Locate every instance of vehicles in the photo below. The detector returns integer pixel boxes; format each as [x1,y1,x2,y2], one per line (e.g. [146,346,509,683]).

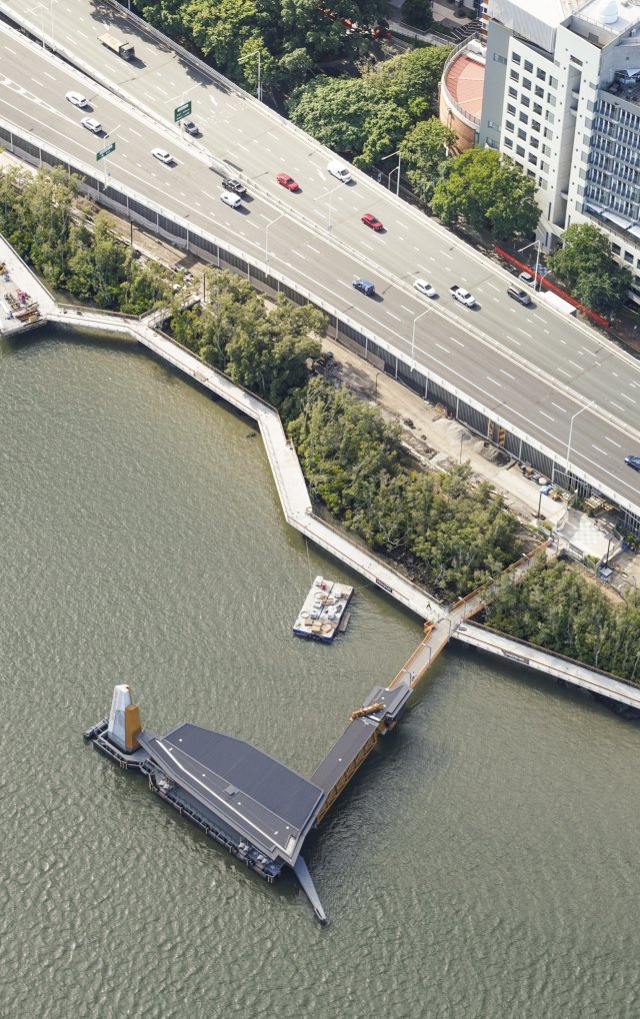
[361,215,385,231]
[414,278,439,295]
[152,149,175,164]
[353,281,376,297]
[67,94,90,108]
[102,36,132,58]
[183,121,202,135]
[220,191,245,209]
[328,160,353,181]
[450,286,477,306]
[518,266,541,285]
[507,285,533,304]
[222,177,248,195]
[542,288,581,317]
[623,454,640,473]
[277,175,301,191]
[82,118,105,134]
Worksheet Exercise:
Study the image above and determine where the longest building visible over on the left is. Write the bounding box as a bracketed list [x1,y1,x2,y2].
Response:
[92,722,324,887]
